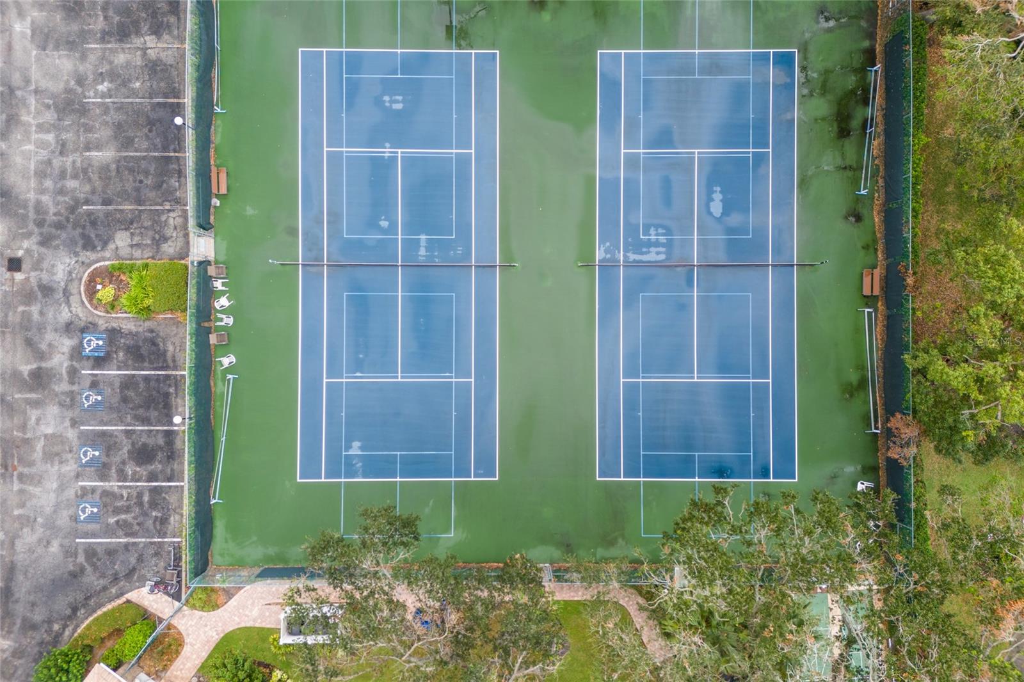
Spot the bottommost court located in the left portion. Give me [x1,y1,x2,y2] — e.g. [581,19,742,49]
[341,293,456,536]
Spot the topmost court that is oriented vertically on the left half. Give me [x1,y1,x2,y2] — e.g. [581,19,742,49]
[342,0,457,237]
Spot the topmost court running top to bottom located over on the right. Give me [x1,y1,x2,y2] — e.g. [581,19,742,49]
[640,0,754,238]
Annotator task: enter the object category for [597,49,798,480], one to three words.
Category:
tennis court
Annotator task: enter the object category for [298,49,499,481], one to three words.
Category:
tennis court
